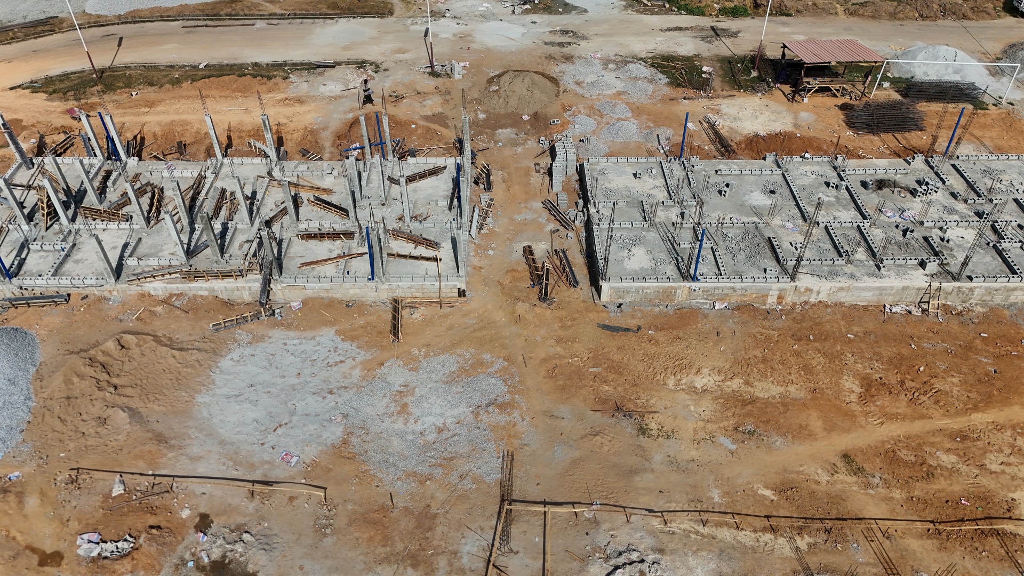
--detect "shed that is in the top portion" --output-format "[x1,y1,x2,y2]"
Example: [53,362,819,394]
[771,37,885,102]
